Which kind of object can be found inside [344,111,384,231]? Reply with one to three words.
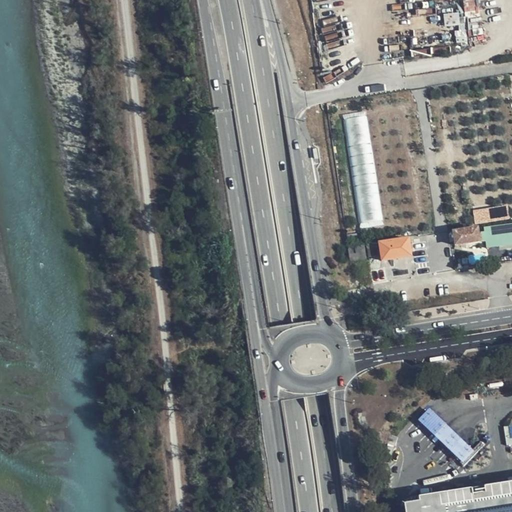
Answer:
greenhouse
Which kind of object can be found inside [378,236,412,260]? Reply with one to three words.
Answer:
house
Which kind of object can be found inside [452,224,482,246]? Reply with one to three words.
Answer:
house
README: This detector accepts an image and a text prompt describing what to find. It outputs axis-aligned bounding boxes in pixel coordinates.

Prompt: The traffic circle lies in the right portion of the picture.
[262,318,355,399]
